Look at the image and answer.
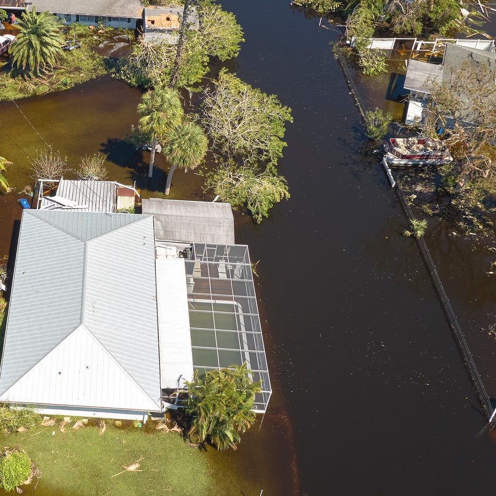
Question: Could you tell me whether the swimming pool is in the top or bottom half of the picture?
bottom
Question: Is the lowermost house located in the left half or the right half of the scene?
left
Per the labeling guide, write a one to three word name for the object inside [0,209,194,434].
house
